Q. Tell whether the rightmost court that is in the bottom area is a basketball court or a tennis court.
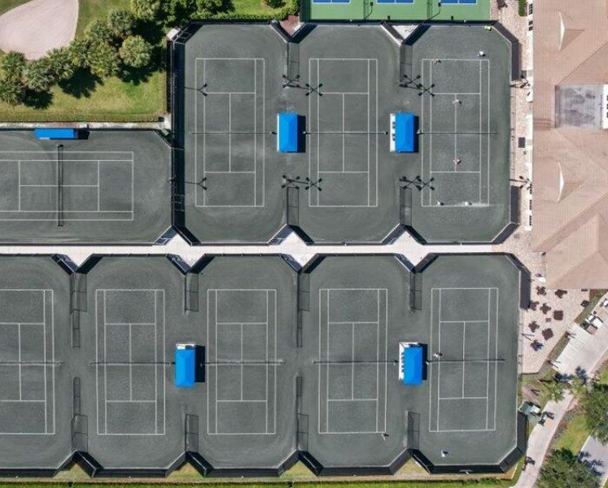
tennis court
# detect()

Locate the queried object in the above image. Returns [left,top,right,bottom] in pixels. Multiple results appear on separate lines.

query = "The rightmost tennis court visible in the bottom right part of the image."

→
[409,256,520,464]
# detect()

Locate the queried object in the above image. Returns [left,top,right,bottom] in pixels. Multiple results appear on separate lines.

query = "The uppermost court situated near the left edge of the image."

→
[0,130,172,243]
